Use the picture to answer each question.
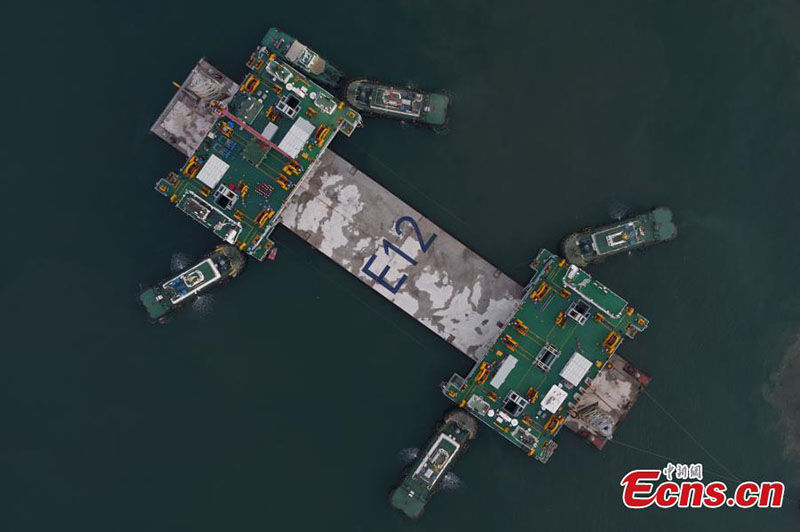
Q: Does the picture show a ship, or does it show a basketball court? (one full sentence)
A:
I can see a ship in this picture.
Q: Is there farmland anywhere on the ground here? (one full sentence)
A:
No, there is no farmland in the image.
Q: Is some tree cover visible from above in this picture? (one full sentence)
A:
No, no tree cover is visible.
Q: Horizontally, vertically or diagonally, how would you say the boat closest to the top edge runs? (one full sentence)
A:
The boat closest to the top edge is oriented diagonally.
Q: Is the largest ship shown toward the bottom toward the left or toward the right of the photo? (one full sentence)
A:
The largest ship shown toward the bottom appears in the right half of the scene.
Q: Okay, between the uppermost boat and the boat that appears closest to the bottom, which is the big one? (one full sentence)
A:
The uppermost boat is smaller than the boat that appears closest to the bottom.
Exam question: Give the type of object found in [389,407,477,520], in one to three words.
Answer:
boat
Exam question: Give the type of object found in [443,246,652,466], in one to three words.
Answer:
ship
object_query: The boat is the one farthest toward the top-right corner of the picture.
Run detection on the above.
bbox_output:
[558,206,679,265]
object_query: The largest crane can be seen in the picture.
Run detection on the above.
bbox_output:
[211,98,299,162]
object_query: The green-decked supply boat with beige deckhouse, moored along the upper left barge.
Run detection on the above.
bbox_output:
[261,26,342,89]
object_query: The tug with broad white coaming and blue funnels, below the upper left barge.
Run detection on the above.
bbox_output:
[138,246,248,320]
